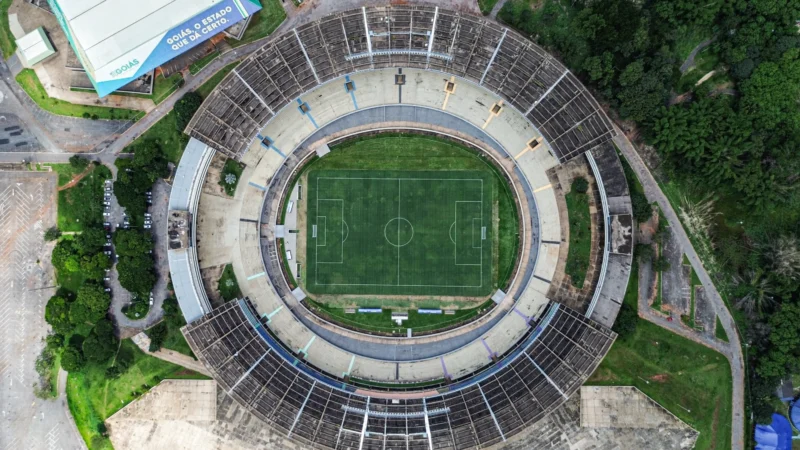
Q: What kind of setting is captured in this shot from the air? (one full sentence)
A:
This image shows a sports ground.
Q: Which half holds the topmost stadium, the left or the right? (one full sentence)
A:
It is on the left.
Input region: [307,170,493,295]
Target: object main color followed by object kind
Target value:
green soccer field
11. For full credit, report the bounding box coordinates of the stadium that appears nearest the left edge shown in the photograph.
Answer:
[47,0,262,97]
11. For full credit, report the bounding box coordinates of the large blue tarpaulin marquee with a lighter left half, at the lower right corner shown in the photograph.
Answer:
[752,412,792,450]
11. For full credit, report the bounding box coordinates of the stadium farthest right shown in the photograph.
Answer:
[167,5,633,450]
